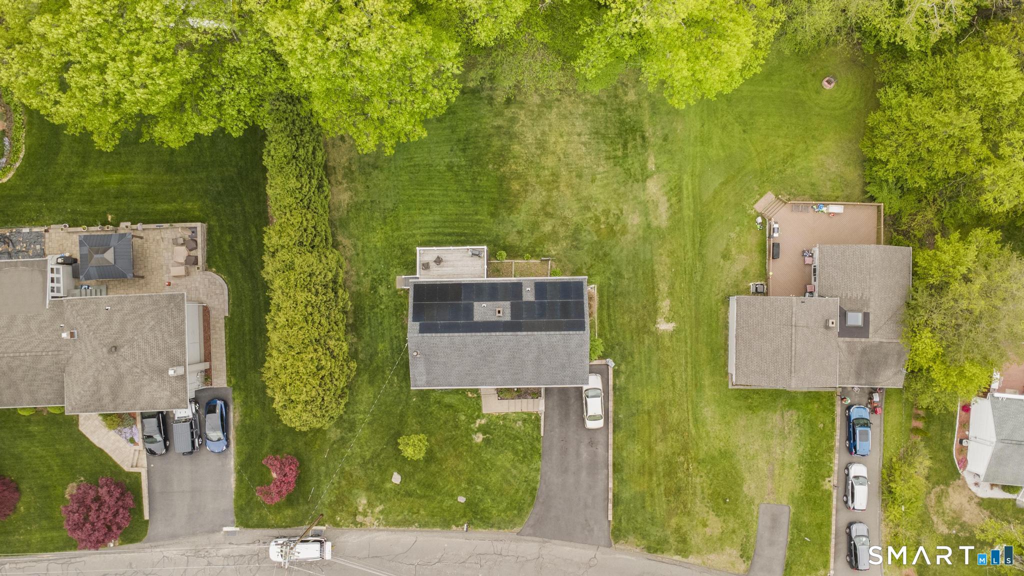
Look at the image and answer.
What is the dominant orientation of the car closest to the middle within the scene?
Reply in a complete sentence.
What the image shows is the car closest to the middle lying from top to bottom.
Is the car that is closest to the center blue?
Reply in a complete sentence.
No, from above the car that is closest to the center looks white.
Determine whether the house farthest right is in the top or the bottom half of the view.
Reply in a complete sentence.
You can find the house farthest right in the bottom half.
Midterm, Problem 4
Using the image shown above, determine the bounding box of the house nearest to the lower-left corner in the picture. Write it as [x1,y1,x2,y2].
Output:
[0,257,211,415]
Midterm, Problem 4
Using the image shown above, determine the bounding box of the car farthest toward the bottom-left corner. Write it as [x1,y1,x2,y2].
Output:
[139,413,169,455]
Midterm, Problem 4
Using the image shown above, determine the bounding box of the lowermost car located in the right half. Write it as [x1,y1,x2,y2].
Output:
[844,521,874,573]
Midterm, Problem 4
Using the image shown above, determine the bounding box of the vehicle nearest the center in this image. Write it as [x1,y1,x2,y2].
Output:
[582,373,606,429]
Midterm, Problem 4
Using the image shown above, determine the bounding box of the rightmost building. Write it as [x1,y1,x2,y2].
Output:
[969,388,1024,500]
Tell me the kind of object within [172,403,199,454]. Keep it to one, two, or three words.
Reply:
car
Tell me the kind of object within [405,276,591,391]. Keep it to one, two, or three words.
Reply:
house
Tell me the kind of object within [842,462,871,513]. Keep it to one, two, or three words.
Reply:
car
